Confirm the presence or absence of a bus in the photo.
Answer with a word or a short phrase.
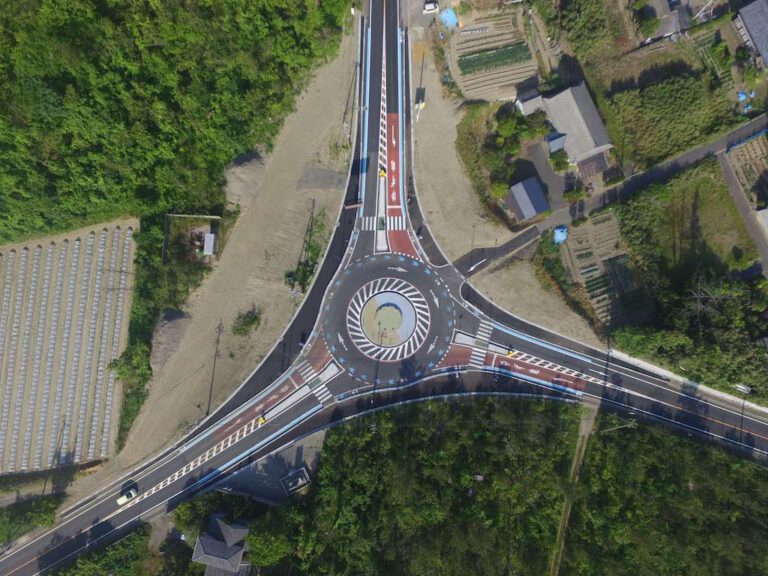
No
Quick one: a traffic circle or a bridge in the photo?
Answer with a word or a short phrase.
traffic circle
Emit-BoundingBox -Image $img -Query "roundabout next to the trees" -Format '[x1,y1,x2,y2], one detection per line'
[322,252,454,386]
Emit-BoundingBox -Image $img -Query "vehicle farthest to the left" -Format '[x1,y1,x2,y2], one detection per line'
[118,488,139,504]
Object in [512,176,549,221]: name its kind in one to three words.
barn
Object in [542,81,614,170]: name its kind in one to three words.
house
